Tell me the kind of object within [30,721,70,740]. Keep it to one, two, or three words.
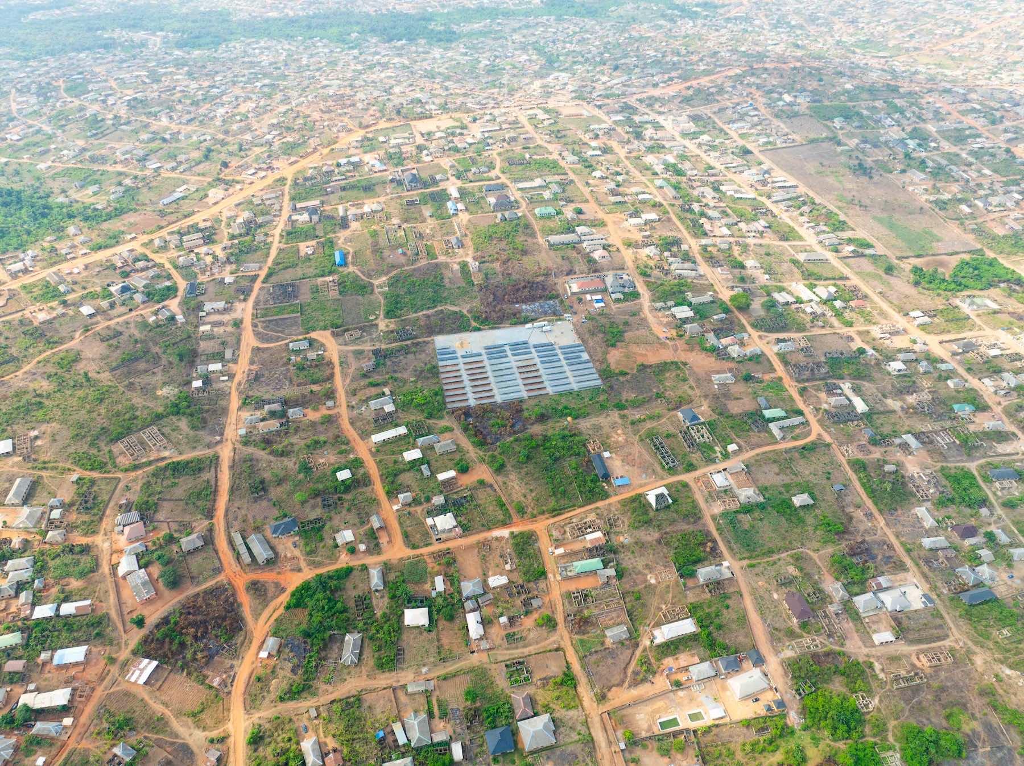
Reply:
house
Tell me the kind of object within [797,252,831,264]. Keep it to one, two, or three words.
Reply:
house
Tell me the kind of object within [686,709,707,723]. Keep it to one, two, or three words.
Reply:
swimming pool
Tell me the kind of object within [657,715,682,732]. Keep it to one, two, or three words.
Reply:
swimming pool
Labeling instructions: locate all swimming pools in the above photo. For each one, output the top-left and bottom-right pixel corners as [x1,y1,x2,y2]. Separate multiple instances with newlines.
[686,709,707,723]
[657,715,682,732]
